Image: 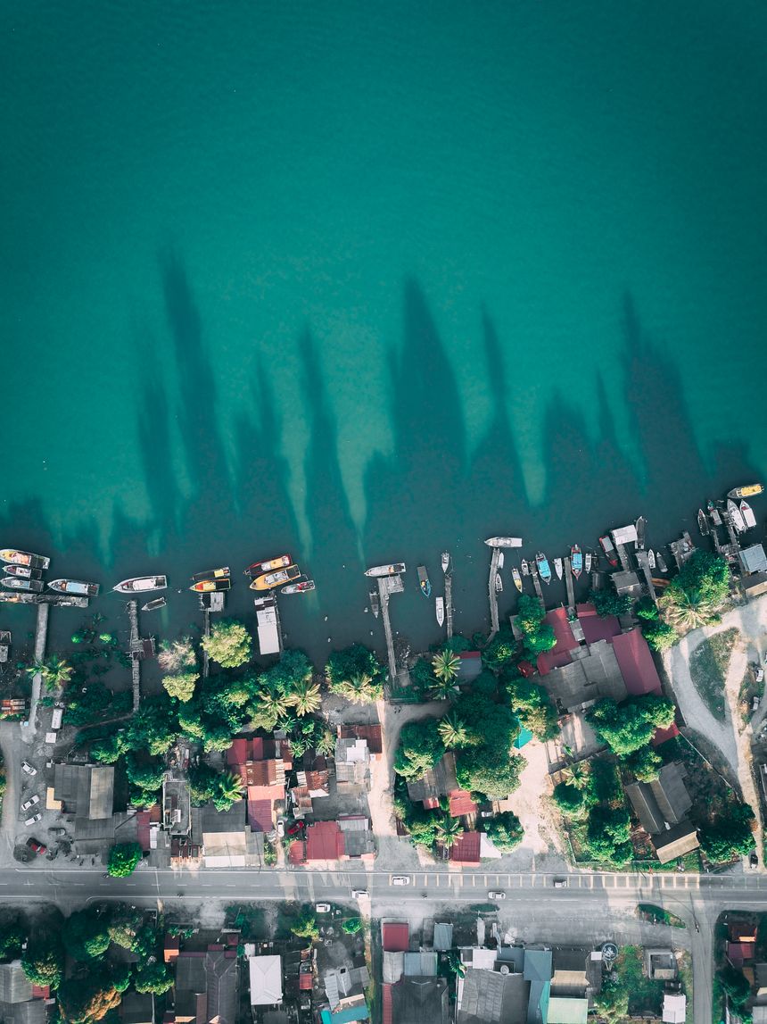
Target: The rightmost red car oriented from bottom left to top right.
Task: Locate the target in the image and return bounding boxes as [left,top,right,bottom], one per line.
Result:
[287,820,304,834]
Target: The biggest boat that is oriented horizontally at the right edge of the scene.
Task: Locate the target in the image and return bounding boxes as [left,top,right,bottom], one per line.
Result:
[716,484,765,502]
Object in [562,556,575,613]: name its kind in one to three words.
pier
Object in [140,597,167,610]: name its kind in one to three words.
boat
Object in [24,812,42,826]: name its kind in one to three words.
car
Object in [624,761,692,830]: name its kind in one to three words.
house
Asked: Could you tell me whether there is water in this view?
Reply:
Yes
